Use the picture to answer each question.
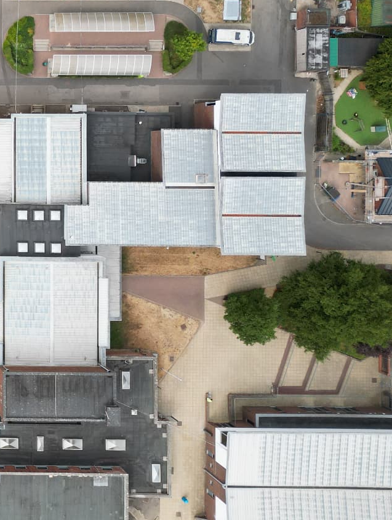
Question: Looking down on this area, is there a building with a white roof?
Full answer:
Yes, this view includes a building with a white roof.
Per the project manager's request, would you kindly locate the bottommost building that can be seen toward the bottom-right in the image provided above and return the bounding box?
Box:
[204,422,392,520]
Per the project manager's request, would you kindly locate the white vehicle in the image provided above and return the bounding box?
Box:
[204,28,249,46]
